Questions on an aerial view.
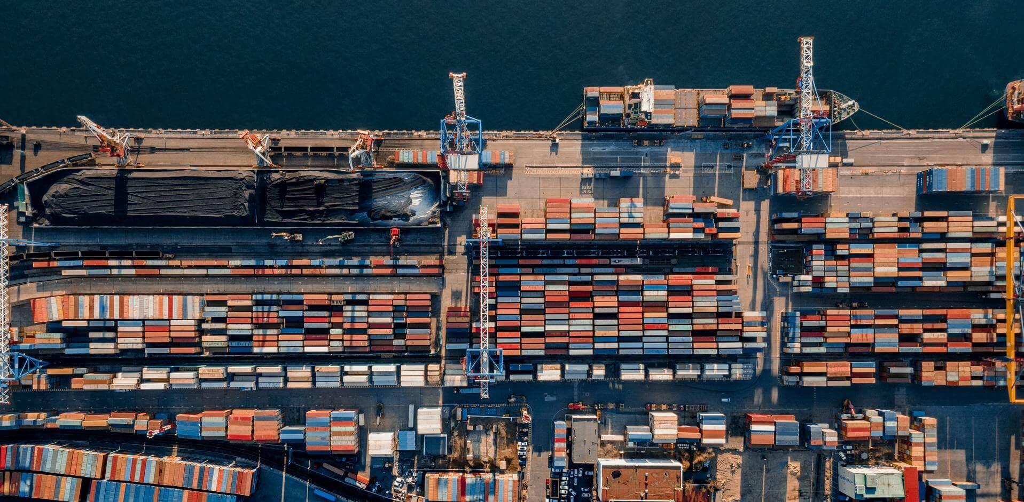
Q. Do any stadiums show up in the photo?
No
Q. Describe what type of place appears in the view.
port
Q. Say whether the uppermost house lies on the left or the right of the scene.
left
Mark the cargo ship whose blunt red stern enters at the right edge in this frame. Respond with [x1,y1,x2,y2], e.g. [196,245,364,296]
[1003,80,1024,125]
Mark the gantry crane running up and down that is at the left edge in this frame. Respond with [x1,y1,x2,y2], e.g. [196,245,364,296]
[0,207,62,398]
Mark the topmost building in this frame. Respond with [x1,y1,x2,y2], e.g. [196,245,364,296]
[13,183,38,222]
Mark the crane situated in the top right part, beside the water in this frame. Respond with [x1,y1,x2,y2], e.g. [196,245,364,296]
[759,35,836,199]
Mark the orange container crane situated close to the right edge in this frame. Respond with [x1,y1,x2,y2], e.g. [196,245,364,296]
[992,196,1024,402]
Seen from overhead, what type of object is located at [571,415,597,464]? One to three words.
building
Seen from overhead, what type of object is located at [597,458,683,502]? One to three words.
building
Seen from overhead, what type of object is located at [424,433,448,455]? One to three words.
shed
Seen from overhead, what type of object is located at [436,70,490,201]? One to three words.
container crane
